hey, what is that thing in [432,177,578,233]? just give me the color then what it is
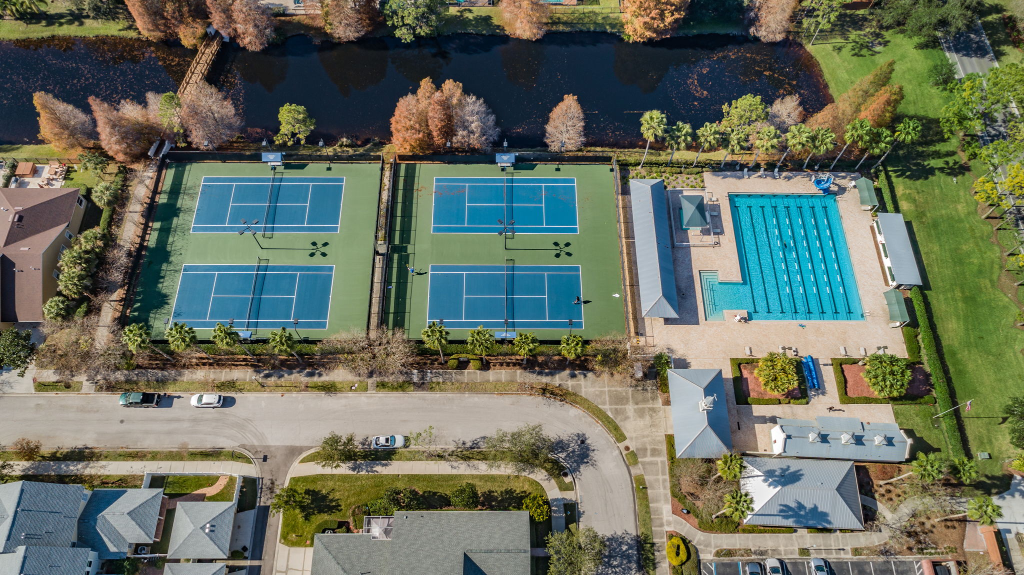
blue tennis court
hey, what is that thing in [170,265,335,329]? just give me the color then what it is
blue tennis court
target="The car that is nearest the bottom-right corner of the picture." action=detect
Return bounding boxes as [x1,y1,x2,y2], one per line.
[813,554,833,575]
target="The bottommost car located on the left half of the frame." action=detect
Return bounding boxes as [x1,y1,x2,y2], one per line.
[372,434,407,450]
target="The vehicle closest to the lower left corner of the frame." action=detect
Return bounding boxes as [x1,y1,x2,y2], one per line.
[117,392,161,408]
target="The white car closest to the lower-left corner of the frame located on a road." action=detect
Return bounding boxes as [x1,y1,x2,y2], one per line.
[190,393,223,409]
